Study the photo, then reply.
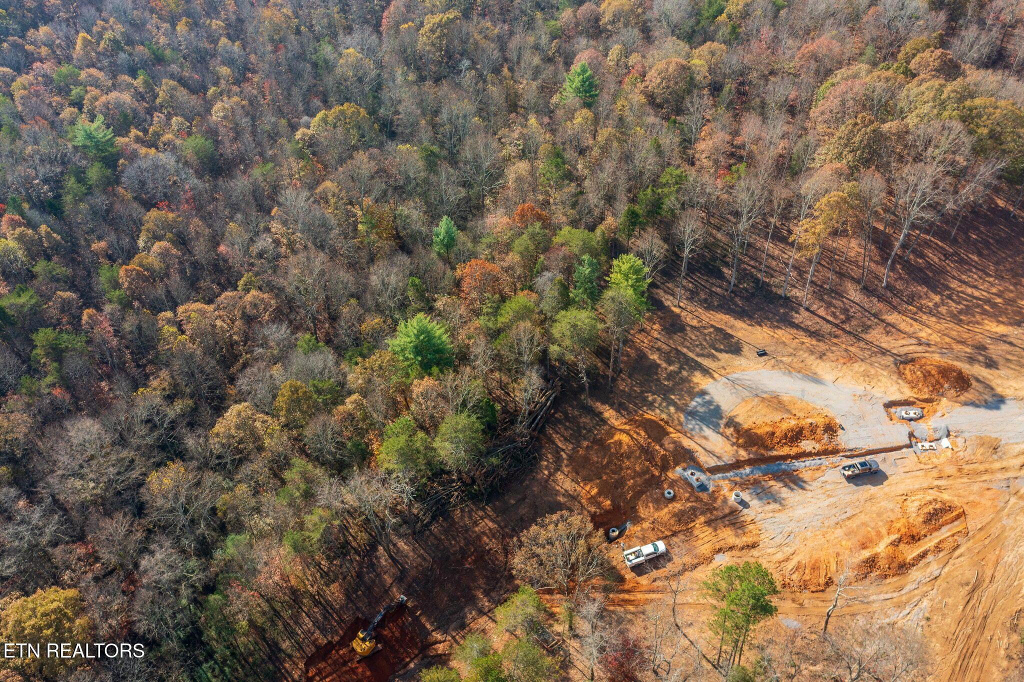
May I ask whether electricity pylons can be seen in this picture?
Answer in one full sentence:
No, the scene contains no electricity pylon.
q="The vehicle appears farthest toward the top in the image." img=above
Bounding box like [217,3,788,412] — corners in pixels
[841,461,883,480]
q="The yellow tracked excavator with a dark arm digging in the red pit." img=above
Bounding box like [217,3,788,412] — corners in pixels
[351,600,402,661]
